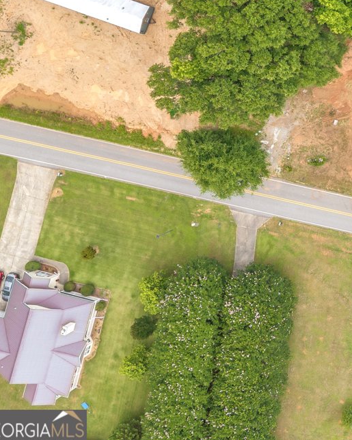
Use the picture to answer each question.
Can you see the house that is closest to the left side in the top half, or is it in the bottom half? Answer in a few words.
bottom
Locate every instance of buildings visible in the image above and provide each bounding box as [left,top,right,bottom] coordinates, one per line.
[46,0,161,34]
[0,269,100,406]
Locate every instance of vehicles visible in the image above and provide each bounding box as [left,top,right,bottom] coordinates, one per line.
[1,272,20,300]
[0,271,5,294]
